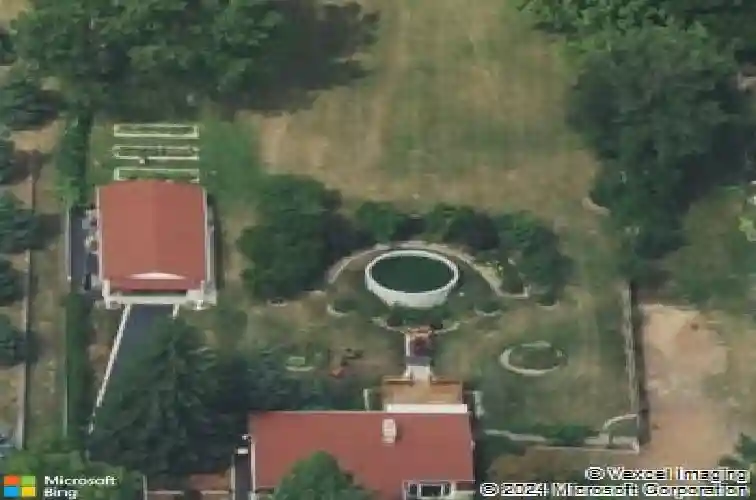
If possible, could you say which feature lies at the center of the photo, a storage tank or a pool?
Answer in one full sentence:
Looking at the center of the photo, you will find a pool.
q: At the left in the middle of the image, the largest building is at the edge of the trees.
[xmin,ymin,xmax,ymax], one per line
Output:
[102,179,210,312]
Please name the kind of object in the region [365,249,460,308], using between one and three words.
swimming pool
